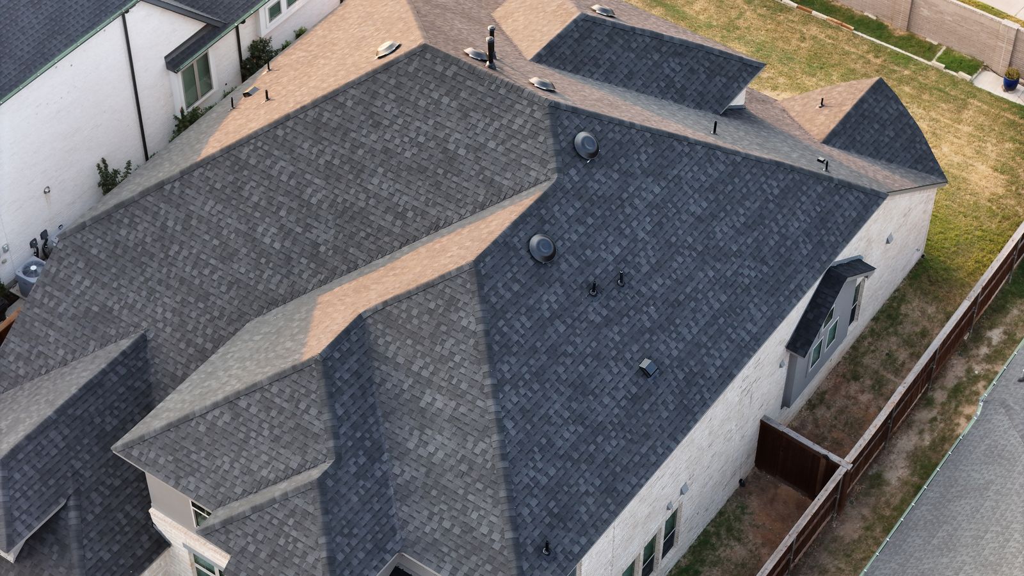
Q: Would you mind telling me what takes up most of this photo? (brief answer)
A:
buildings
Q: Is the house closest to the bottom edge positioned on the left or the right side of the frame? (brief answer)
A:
right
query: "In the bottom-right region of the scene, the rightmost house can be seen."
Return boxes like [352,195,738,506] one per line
[857,337,1024,576]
